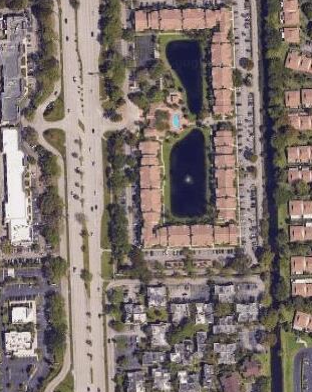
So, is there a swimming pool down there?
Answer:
Yes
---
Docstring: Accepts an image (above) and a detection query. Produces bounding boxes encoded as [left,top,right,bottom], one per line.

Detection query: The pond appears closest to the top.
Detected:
[166,40,201,115]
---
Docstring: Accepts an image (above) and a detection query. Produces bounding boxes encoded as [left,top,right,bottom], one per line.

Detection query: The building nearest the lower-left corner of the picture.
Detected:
[5,330,36,358]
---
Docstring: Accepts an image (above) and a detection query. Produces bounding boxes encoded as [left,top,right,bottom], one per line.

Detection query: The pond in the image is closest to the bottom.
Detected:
[170,129,207,217]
